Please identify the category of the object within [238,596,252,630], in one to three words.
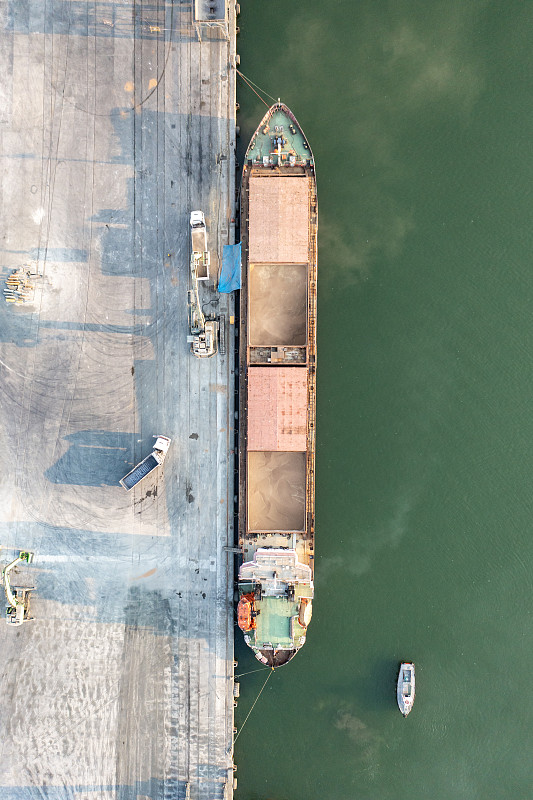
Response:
boat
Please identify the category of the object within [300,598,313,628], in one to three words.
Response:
boat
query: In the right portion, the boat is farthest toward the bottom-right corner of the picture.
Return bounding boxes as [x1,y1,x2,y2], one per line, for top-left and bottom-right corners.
[398,661,417,720]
